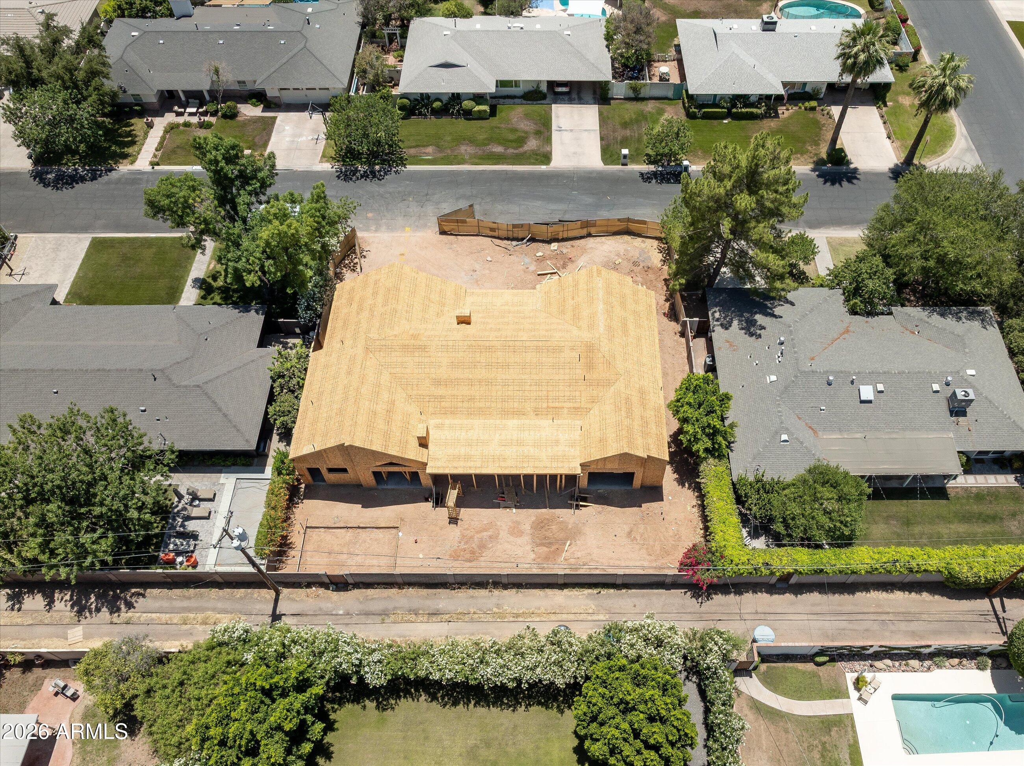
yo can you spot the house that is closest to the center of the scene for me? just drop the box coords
[289,263,672,494]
